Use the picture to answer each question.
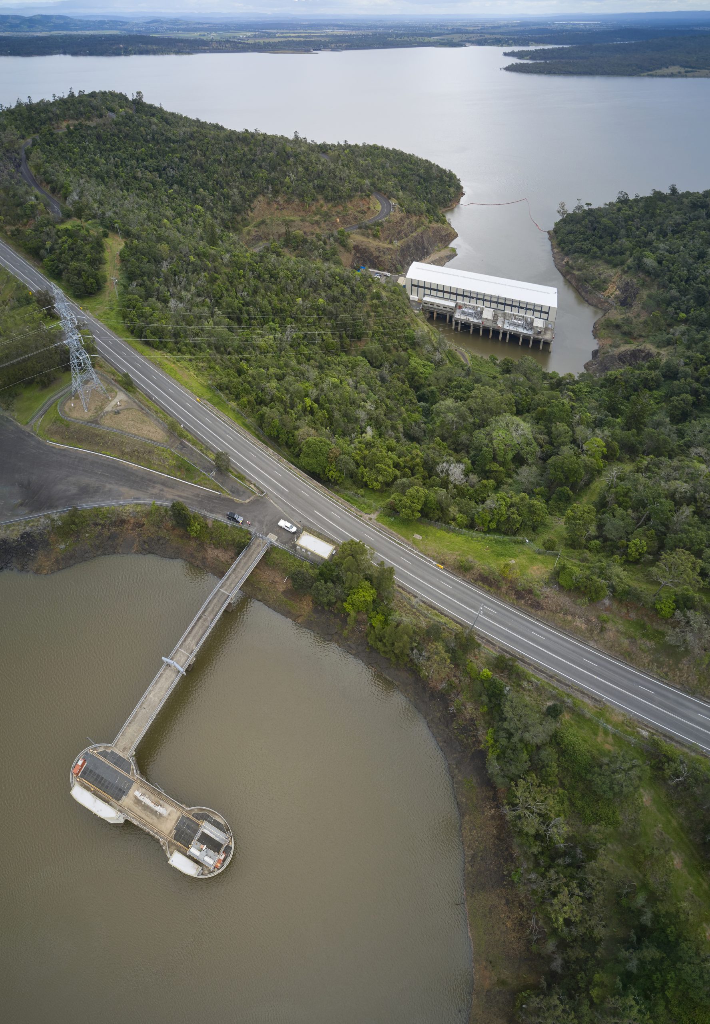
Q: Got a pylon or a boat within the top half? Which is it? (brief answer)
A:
pylon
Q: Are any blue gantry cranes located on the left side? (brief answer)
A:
No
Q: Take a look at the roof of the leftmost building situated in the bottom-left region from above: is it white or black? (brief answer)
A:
white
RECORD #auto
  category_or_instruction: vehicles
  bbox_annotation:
[277,518,297,532]
[225,511,244,524]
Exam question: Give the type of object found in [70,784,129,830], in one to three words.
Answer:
building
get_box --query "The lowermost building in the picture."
[168,850,205,880]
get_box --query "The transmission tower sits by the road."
[38,278,113,412]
